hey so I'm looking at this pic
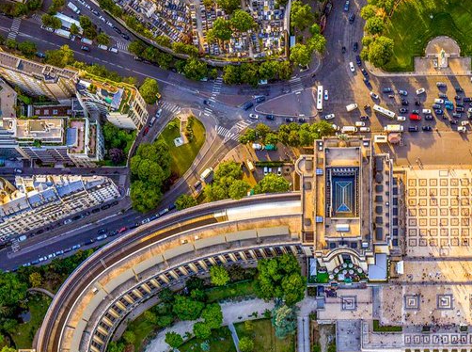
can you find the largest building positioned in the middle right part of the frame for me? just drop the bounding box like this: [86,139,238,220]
[296,136,398,276]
